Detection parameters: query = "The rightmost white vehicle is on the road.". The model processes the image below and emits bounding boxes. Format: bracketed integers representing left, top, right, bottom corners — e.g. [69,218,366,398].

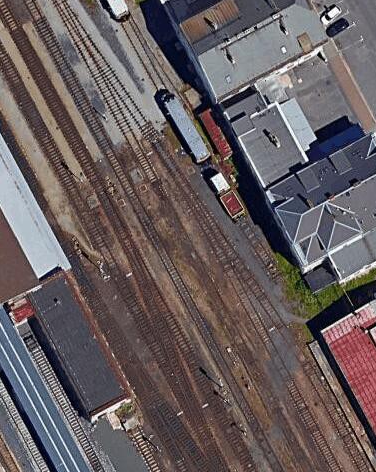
[319,7,342,24]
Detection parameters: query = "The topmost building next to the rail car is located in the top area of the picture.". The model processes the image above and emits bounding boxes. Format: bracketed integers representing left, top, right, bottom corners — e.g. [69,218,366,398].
[181,0,329,105]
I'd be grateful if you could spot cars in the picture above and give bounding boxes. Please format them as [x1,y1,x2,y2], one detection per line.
[325,18,350,37]
[319,7,342,24]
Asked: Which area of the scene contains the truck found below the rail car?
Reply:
center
